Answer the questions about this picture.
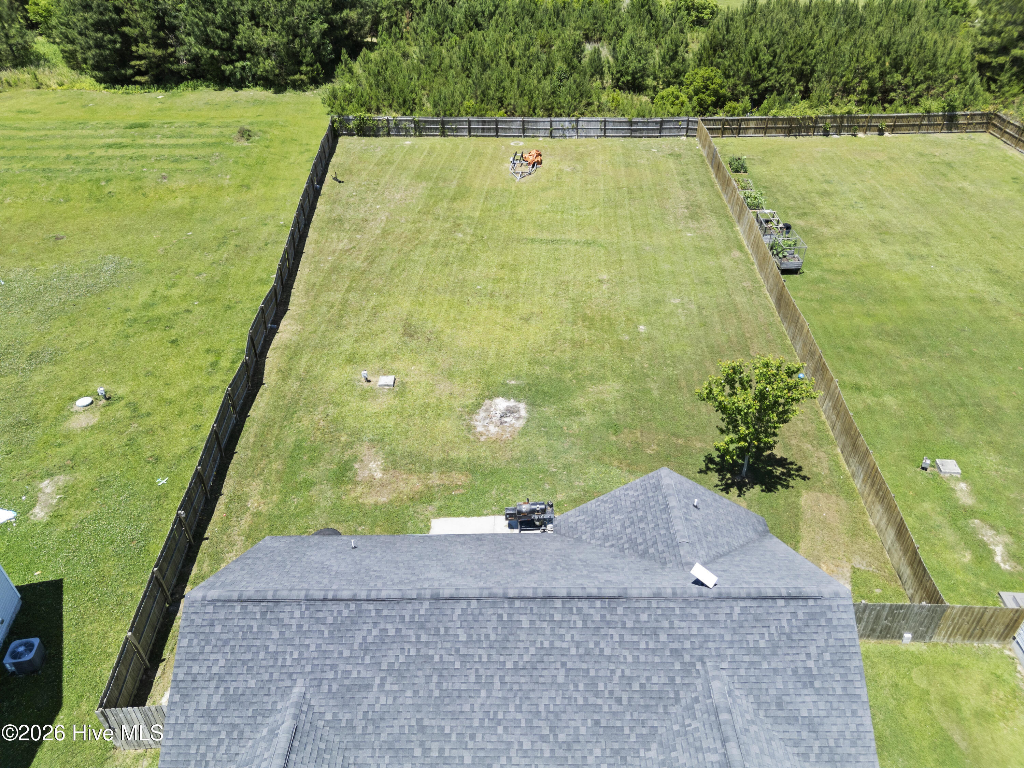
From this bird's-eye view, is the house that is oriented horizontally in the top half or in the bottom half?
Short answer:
bottom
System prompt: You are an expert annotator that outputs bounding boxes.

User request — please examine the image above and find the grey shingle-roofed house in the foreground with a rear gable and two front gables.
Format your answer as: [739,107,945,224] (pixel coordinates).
[159,466,884,768]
